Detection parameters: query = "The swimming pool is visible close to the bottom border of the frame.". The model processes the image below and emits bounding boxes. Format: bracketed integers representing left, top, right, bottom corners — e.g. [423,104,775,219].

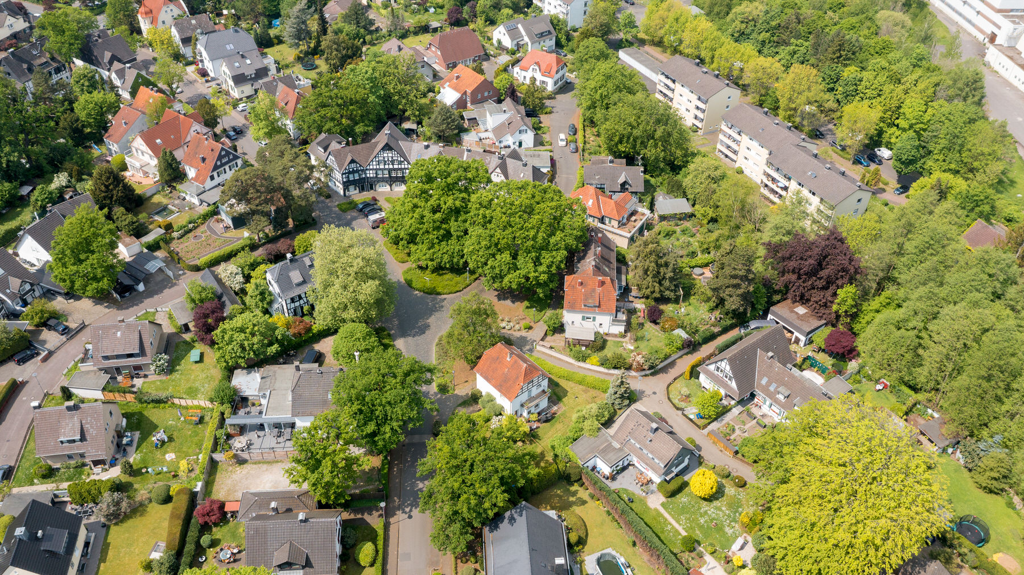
[595,544,627,575]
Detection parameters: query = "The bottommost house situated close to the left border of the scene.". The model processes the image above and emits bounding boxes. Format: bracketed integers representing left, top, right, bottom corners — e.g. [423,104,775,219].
[0,491,89,575]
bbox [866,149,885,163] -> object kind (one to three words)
car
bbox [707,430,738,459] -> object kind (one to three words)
shed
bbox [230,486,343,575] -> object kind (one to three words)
house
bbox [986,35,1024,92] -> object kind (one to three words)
building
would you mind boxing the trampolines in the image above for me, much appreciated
[833,357,846,372]
[954,510,998,546]
[300,57,316,70]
